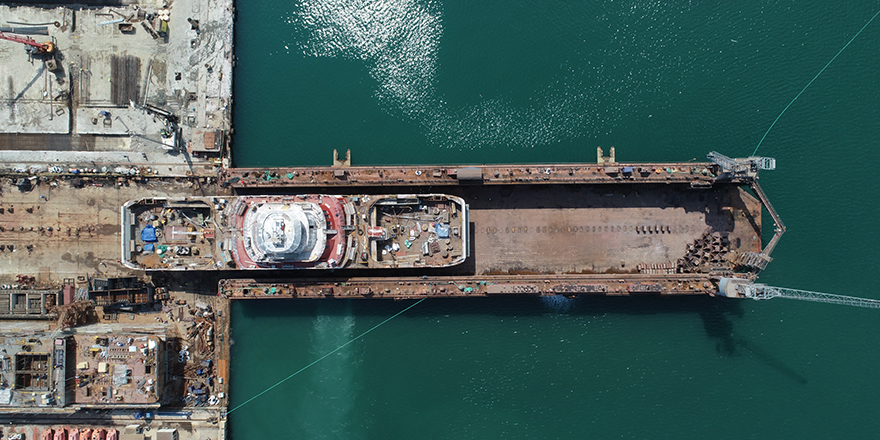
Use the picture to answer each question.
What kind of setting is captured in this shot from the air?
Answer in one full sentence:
It's a port.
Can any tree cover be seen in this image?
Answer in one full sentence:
No, tree cover can't be seen anywhere here.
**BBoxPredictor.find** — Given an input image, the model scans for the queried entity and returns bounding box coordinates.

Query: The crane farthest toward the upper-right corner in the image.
[706,150,776,185]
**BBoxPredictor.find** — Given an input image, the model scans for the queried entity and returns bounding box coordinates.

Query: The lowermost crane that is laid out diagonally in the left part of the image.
[129,99,184,156]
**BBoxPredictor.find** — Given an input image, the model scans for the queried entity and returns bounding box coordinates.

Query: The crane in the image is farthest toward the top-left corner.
[0,34,56,60]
